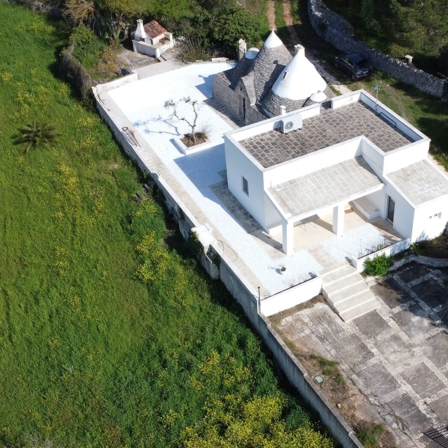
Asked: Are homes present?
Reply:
Yes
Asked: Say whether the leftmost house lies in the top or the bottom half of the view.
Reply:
top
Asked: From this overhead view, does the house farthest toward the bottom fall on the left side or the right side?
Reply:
right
